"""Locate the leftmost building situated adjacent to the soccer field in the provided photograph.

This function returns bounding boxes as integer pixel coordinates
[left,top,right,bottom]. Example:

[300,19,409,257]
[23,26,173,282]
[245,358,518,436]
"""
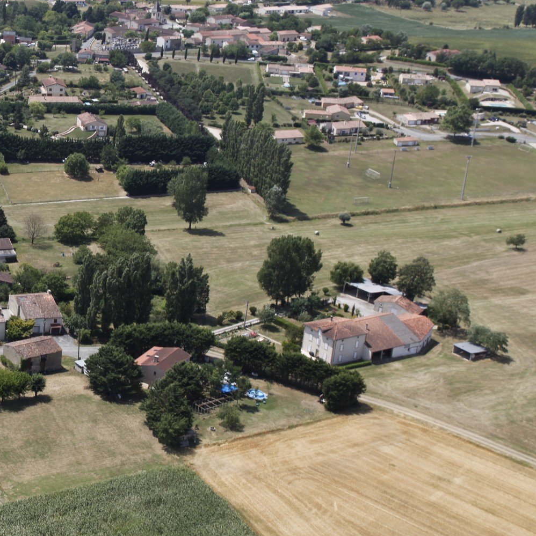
[265,127,304,144]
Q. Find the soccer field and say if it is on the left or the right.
right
